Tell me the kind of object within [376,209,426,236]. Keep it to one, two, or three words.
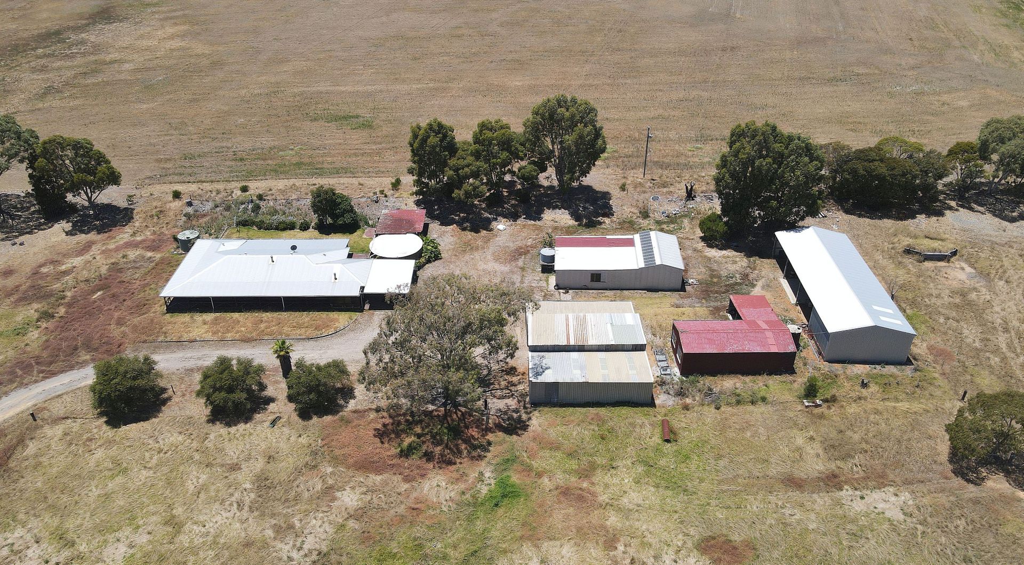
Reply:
shed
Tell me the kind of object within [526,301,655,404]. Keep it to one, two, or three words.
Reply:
shed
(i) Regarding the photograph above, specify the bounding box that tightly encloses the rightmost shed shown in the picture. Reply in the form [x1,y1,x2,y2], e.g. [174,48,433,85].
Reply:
[771,226,917,363]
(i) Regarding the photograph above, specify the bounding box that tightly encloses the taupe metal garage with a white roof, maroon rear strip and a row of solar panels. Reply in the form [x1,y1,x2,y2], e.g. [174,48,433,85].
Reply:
[554,229,684,289]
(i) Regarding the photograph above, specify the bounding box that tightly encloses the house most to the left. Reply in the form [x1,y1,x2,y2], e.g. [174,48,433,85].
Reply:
[158,231,374,312]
